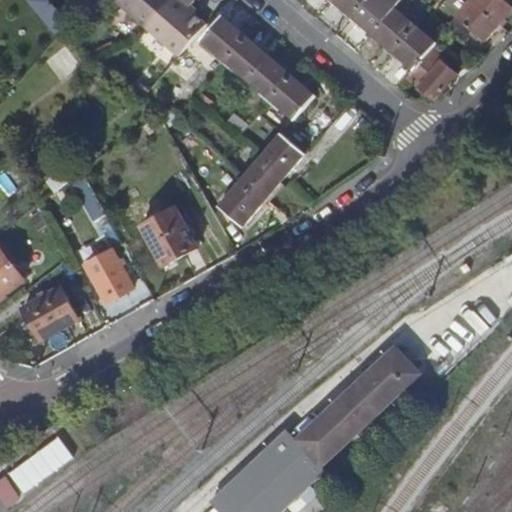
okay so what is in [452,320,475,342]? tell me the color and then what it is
white vehicle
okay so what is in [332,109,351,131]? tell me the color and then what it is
white camper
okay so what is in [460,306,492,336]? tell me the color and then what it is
white truck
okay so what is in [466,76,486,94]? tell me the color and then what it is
white car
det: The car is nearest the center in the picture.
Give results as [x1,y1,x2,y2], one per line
[292,219,313,236]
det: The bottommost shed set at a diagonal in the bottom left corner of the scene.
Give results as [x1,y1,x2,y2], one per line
[10,437,76,494]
